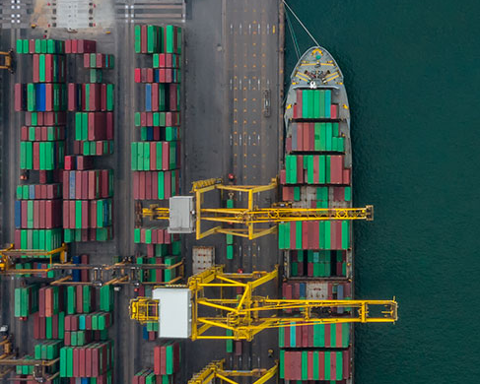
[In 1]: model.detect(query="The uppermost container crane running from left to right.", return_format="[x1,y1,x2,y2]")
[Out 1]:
[142,176,376,241]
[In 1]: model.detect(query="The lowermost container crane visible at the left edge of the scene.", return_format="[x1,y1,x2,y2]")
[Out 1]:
[0,347,60,383]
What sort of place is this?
port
